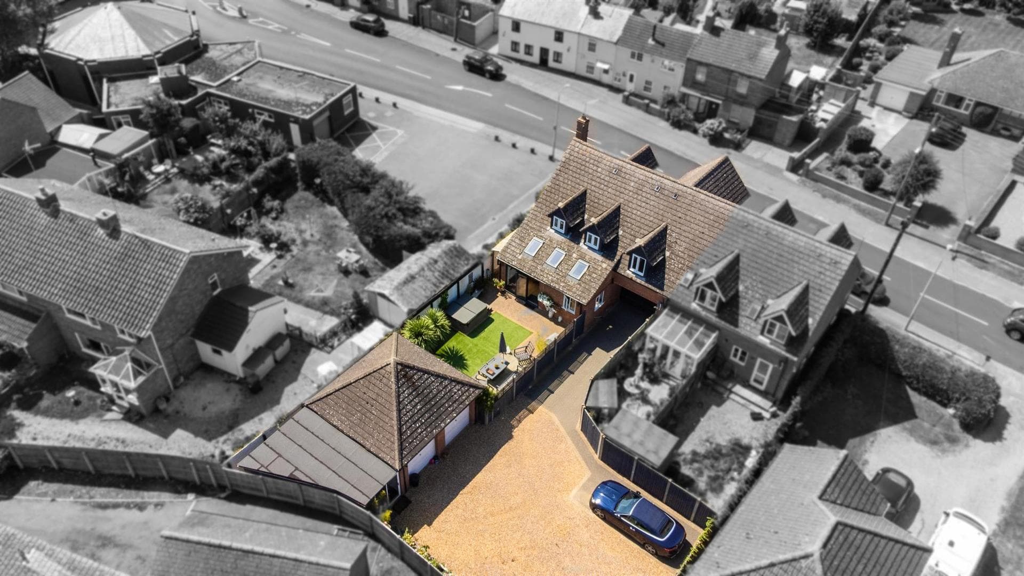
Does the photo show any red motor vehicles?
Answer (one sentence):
No, I can't see a single red motor vehicle in this photo.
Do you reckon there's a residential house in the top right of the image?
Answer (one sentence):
Yes, the scene does show a residential house in the top right of the image.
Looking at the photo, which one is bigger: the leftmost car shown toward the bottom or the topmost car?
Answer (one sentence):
The leftmost car shown toward the bottom is bigger than the topmost car.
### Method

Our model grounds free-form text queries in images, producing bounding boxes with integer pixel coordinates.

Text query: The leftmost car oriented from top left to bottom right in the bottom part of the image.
[587,480,689,558]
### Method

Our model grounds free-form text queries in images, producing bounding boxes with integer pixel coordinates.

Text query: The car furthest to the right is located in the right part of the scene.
[995,310,1024,340]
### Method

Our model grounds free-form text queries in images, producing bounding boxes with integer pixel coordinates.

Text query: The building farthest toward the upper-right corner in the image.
[872,27,1024,141]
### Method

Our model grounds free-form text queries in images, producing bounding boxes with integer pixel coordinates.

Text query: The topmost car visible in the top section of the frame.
[350,15,389,39]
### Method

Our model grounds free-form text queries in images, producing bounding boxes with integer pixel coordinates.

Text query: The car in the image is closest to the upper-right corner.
[921,117,977,149]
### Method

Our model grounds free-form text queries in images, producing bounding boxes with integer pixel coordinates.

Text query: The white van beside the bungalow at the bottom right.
[922,513,999,576]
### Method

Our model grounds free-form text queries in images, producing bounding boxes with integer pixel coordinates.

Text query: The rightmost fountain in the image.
[626,373,647,395]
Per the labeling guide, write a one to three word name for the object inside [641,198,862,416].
house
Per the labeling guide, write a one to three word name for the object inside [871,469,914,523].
car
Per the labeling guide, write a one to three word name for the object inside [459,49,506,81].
car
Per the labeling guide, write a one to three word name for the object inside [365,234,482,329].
shed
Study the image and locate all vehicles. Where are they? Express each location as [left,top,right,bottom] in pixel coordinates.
[995,310,1024,340]
[922,513,999,576]
[459,49,506,81]
[847,265,890,303]
[350,15,389,39]
[921,117,977,149]
[587,480,689,558]
[871,469,914,523]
